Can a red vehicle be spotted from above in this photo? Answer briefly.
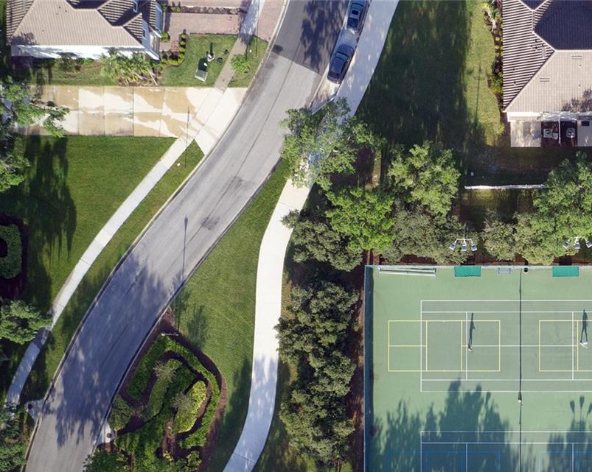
No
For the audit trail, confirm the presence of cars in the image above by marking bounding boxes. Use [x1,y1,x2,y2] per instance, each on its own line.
[346,0,371,30]
[328,44,354,85]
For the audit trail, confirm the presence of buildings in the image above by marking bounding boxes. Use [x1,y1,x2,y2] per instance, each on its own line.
[503,0,592,122]
[12,0,168,59]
